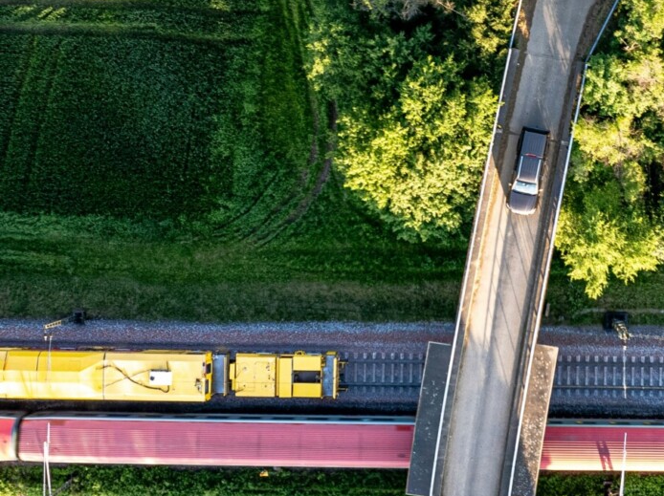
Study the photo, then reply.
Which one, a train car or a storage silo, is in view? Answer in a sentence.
Visible in the photo is a train car.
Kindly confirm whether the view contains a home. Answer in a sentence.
No, no home is visible in the scene.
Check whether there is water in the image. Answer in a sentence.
No, the scene doesn't show any water.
